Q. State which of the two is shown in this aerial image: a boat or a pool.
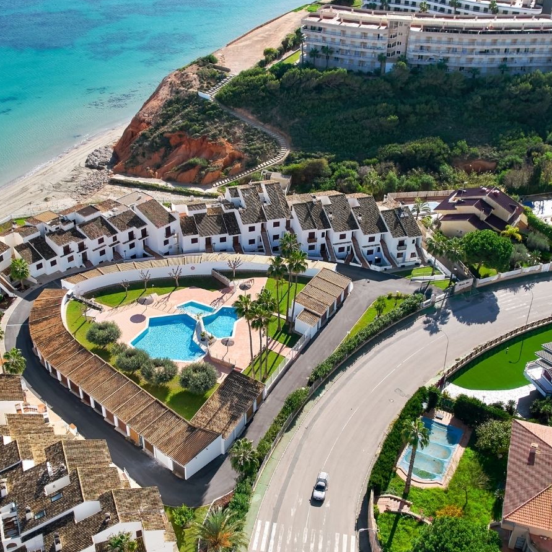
pool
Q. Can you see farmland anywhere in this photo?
No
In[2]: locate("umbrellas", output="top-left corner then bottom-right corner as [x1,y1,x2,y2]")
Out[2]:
[236,281,255,293]
[213,342,234,359]
[132,297,151,315]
